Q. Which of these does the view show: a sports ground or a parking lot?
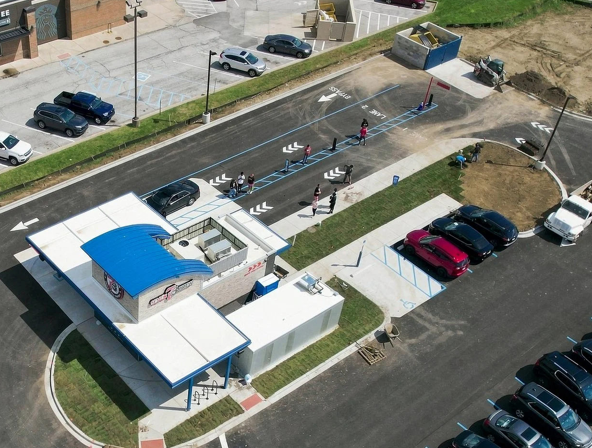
parking lot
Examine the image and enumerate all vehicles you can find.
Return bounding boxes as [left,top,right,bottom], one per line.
[143,179,202,217]
[386,0,427,8]
[506,375,592,448]
[402,229,472,278]
[476,401,560,448]
[55,91,118,124]
[0,129,33,164]
[32,101,88,136]
[562,332,592,369]
[263,33,314,57]
[218,46,267,76]
[454,199,520,243]
[475,57,516,94]
[445,422,505,448]
[530,348,592,421]
[430,212,499,259]
[540,181,592,245]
